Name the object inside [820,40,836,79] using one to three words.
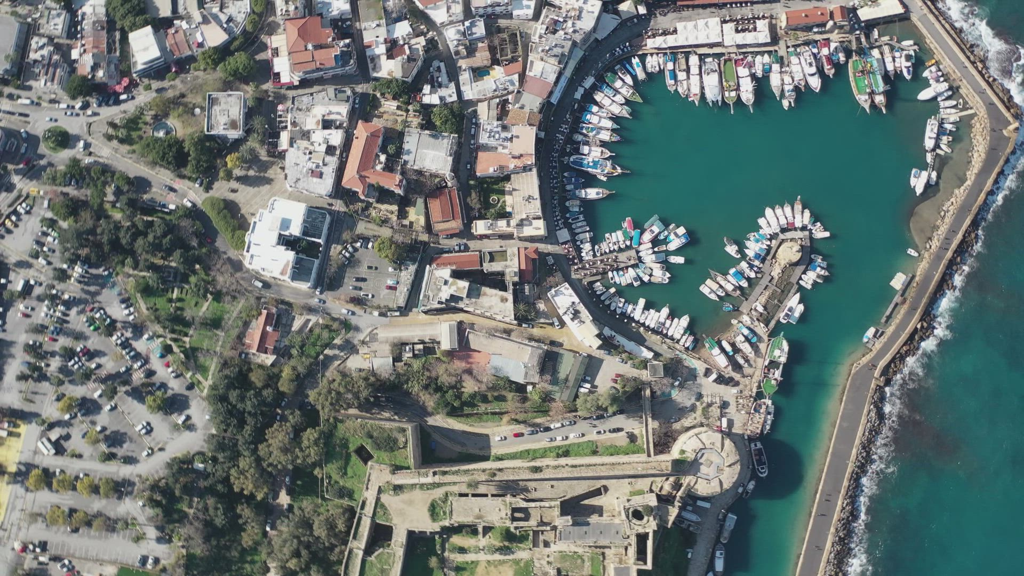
boat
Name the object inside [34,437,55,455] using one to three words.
vehicle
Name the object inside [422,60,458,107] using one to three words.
house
